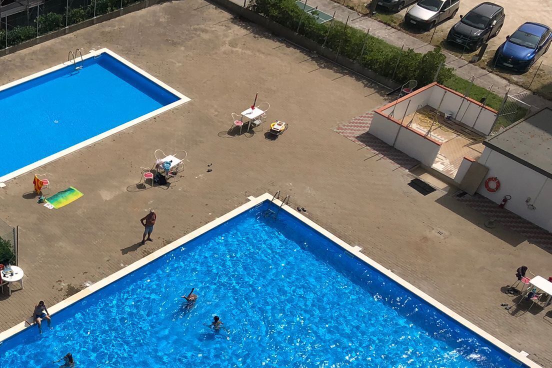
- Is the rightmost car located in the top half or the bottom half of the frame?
top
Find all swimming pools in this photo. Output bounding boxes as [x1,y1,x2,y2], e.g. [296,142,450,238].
[0,48,191,188]
[0,193,543,368]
